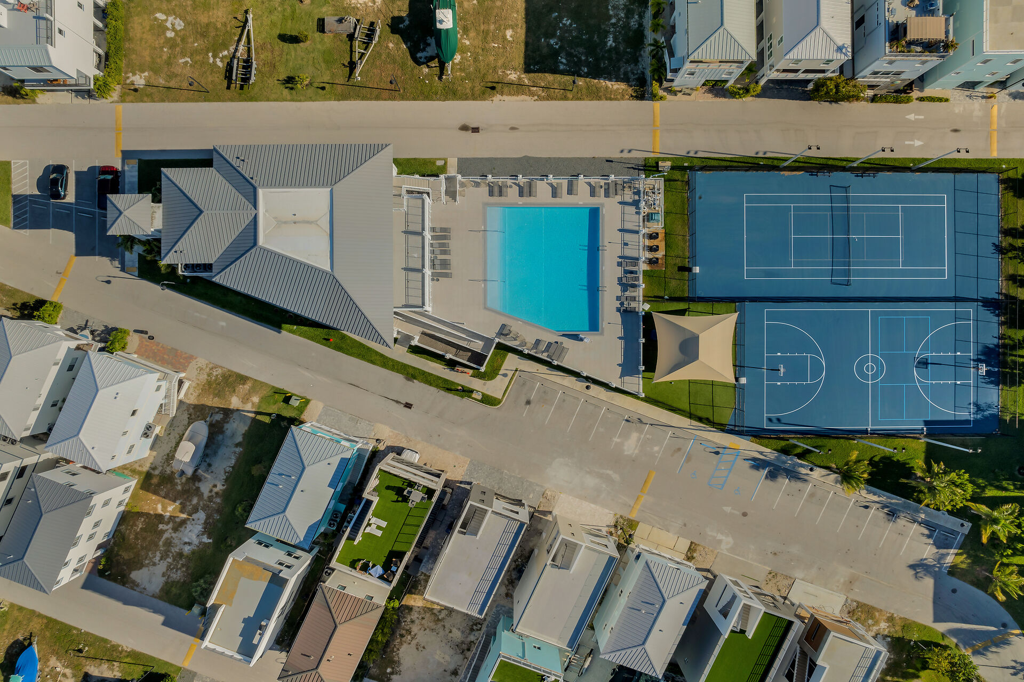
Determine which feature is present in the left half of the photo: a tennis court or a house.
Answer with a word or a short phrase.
house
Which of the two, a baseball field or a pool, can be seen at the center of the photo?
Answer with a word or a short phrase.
pool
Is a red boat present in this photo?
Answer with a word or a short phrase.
No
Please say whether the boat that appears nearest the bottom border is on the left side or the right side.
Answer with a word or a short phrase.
left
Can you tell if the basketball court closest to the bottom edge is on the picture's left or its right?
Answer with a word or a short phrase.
right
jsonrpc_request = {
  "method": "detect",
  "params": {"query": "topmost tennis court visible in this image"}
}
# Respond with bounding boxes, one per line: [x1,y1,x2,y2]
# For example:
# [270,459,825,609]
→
[689,171,1000,299]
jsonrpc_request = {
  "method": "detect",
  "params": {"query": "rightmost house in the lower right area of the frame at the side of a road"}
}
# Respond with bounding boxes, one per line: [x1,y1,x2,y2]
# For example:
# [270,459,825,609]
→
[768,587,891,682]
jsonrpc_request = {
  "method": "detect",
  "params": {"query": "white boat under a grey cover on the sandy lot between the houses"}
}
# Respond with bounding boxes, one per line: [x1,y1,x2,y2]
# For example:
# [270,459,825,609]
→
[155,422,204,486]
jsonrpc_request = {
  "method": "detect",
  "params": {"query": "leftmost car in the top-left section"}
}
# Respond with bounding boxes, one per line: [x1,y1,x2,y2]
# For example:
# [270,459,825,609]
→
[45,163,67,199]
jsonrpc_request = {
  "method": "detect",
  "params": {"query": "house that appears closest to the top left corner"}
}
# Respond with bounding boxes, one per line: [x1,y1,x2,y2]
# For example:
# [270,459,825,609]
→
[0,0,114,94]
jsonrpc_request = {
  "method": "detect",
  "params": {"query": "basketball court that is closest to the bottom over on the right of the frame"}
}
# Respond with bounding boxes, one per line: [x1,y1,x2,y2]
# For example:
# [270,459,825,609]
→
[726,302,1000,441]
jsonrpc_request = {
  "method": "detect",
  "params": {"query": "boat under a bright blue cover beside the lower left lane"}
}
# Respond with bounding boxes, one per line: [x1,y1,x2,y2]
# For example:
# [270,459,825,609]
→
[10,640,39,682]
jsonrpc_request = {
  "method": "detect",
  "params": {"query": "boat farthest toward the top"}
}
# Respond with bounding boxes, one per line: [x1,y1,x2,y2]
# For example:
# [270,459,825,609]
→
[432,0,458,63]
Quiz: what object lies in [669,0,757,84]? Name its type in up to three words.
house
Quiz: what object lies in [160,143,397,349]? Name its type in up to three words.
building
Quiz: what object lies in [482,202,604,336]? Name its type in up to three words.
swimming pool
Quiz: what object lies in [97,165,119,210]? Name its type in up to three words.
truck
